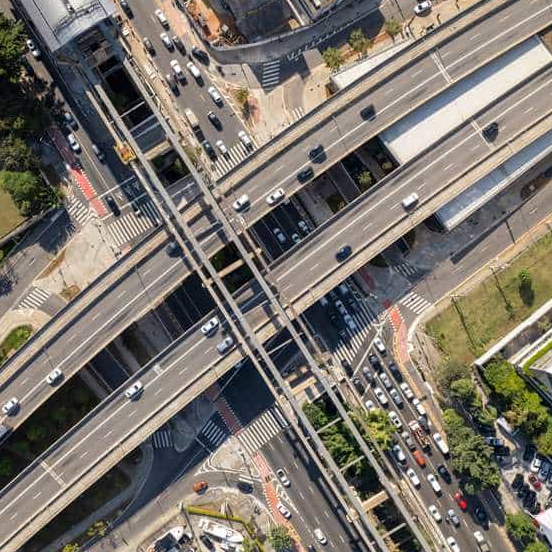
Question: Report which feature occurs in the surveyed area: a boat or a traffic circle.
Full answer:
Visible in the photo is a boat.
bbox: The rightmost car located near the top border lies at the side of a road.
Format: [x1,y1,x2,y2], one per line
[412,0,432,13]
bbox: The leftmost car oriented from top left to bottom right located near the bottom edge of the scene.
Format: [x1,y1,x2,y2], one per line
[200,533,214,551]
